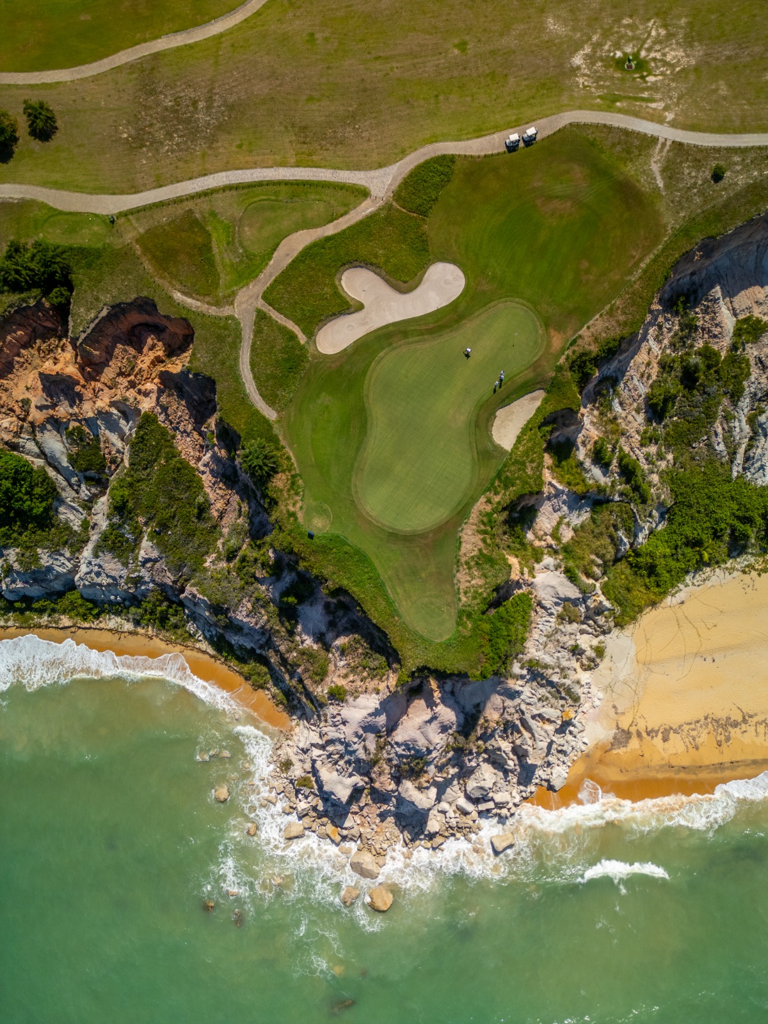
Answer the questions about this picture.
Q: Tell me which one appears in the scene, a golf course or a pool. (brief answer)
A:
golf course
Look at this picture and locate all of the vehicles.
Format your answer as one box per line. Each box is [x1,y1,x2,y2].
[506,130,523,145]
[524,124,540,140]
